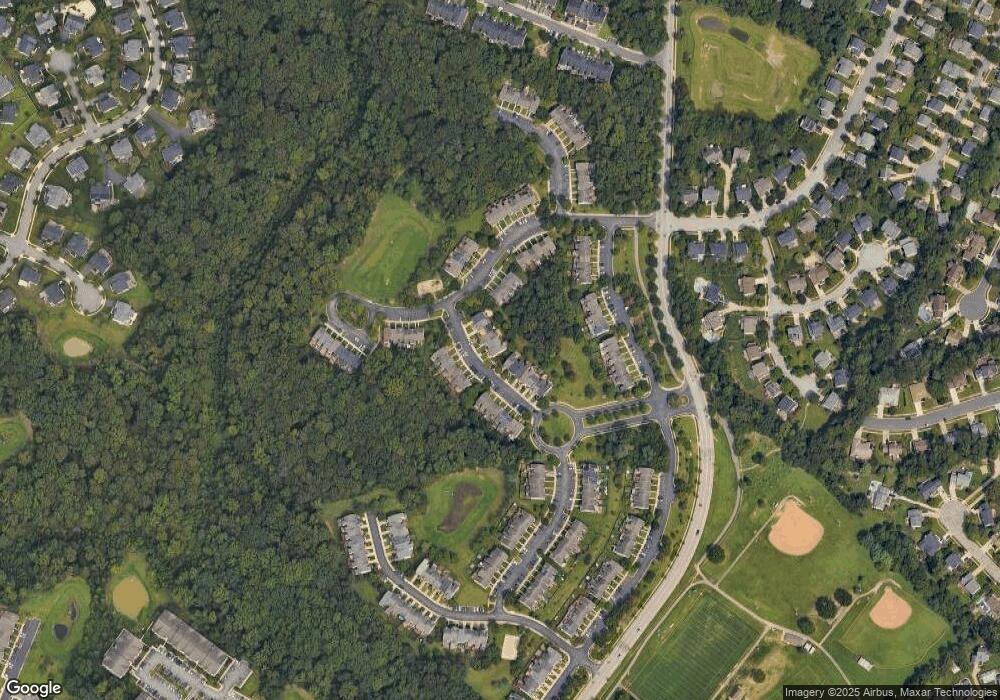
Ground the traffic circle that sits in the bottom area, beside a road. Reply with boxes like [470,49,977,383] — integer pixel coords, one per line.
[531,404,582,453]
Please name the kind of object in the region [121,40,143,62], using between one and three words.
house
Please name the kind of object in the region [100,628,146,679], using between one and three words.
building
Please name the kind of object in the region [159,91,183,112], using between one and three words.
house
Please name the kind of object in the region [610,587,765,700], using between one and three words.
sports field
